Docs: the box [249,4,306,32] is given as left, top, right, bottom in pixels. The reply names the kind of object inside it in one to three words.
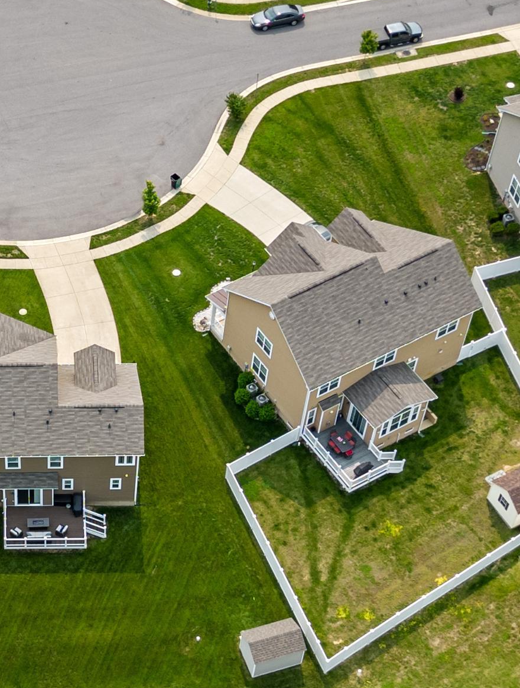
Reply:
car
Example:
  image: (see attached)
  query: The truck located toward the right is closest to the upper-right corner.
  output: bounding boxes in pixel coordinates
[363,17,429,51]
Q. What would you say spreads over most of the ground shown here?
grass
